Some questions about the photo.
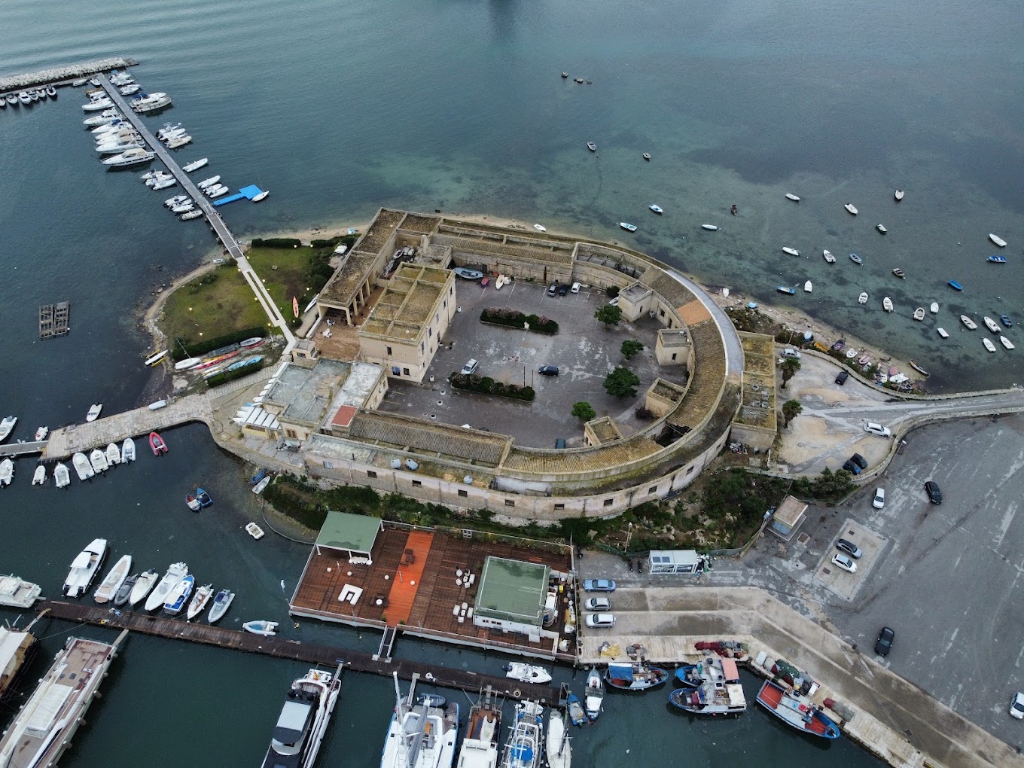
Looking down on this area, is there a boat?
Yes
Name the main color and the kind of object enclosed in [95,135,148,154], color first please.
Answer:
white boat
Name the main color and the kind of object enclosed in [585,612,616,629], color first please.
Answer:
white car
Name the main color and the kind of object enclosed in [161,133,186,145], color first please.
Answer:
white boat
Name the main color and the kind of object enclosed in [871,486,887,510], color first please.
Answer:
white car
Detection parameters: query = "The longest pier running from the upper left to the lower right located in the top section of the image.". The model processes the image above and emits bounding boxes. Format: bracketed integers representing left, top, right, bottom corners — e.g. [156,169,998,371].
[99,77,217,215]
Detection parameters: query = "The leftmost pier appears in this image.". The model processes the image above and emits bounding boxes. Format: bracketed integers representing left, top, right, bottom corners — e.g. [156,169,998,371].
[0,439,47,459]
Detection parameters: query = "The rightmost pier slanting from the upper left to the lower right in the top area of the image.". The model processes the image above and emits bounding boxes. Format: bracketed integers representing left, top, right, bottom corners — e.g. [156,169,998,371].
[205,212,242,257]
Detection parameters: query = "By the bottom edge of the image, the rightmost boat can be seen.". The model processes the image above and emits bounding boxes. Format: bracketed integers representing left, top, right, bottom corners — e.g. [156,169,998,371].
[757,682,840,734]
